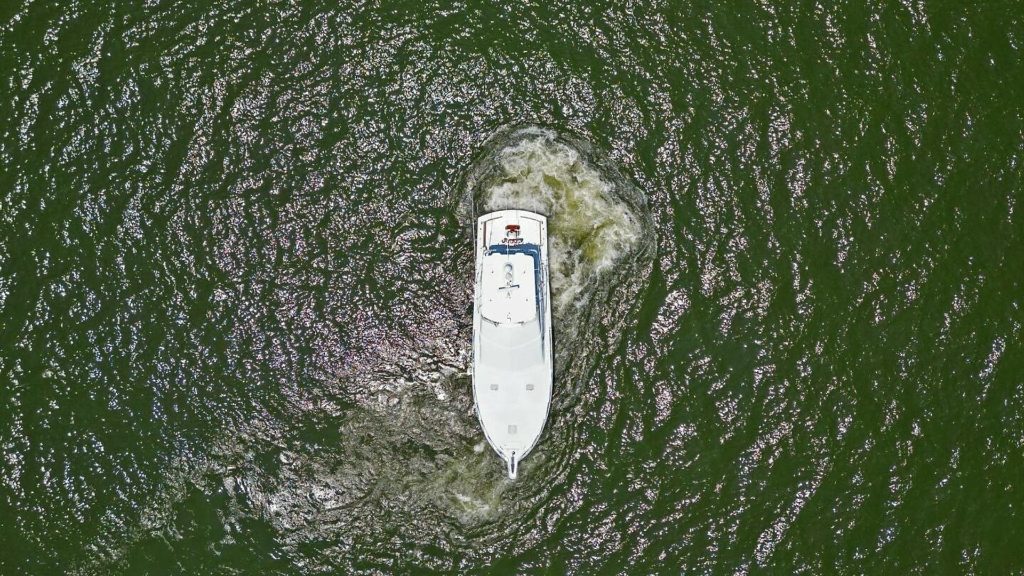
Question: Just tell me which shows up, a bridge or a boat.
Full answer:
The one in the frame is a boat.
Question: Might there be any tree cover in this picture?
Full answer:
No, the picture contains no tree cover.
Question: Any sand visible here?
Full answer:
No, there's no sand in this view.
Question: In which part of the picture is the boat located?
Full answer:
The boat appears toward the center of the photo.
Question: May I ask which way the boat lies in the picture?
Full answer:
In this picture, the boat is oriented up and down.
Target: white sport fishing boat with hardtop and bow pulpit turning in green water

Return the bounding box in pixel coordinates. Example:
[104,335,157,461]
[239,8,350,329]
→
[472,193,554,482]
